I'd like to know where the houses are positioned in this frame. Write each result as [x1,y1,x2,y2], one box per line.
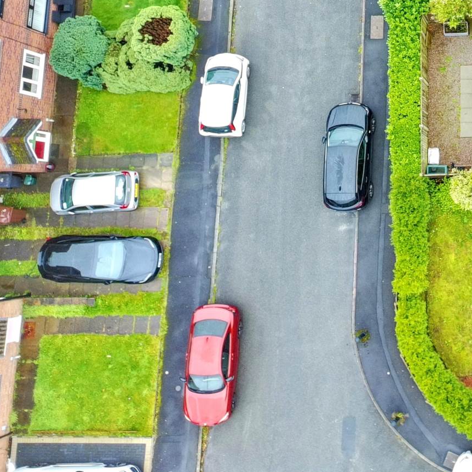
[0,0,65,171]
[0,300,25,472]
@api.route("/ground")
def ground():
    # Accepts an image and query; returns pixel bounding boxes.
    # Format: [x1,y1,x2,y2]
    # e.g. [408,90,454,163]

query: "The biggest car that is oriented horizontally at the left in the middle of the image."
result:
[32,231,163,289]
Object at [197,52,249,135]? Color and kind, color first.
white car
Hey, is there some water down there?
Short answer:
No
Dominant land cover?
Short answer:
paved ground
